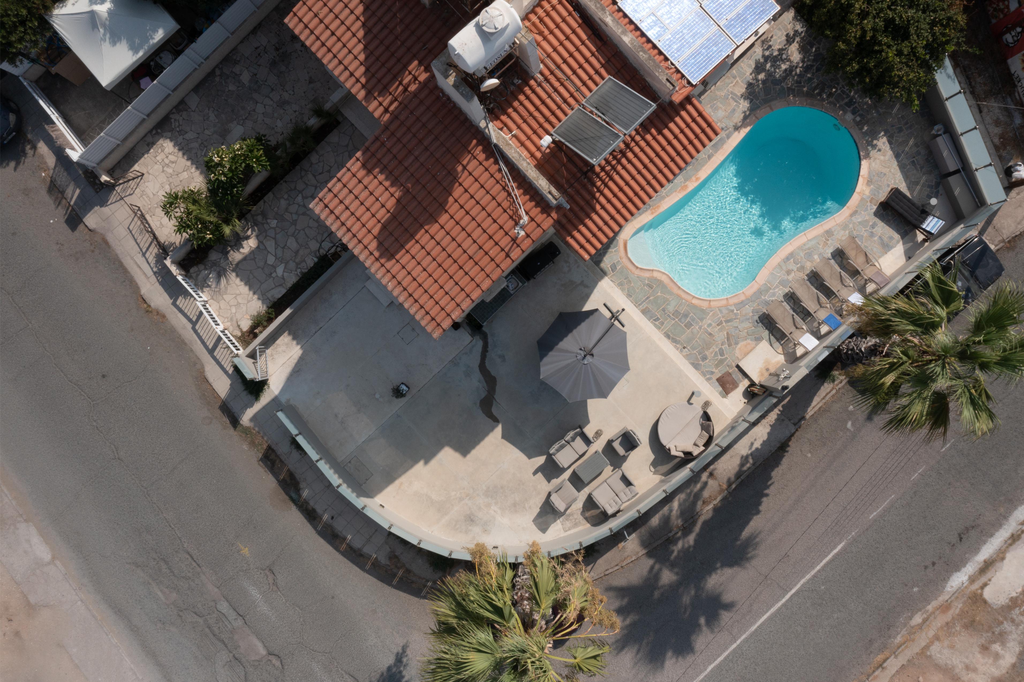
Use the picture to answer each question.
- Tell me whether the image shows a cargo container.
No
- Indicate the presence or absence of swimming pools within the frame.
Yes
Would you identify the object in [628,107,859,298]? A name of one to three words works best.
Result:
swimming pool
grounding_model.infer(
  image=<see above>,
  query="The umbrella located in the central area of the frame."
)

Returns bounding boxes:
[537,304,633,402]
